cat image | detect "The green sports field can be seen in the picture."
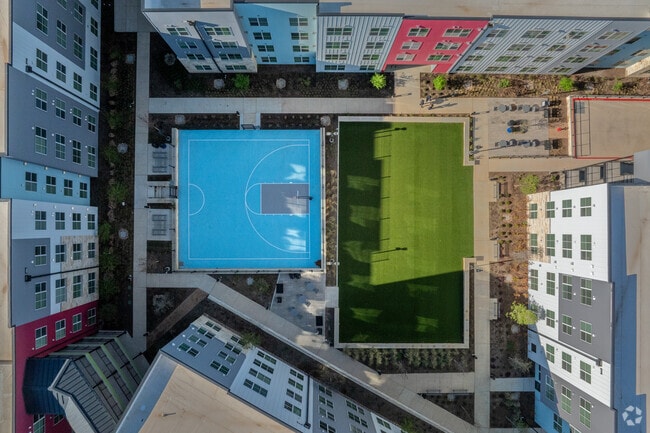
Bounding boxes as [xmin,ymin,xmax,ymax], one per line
[340,121,474,343]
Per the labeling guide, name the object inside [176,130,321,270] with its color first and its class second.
blue basketball court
